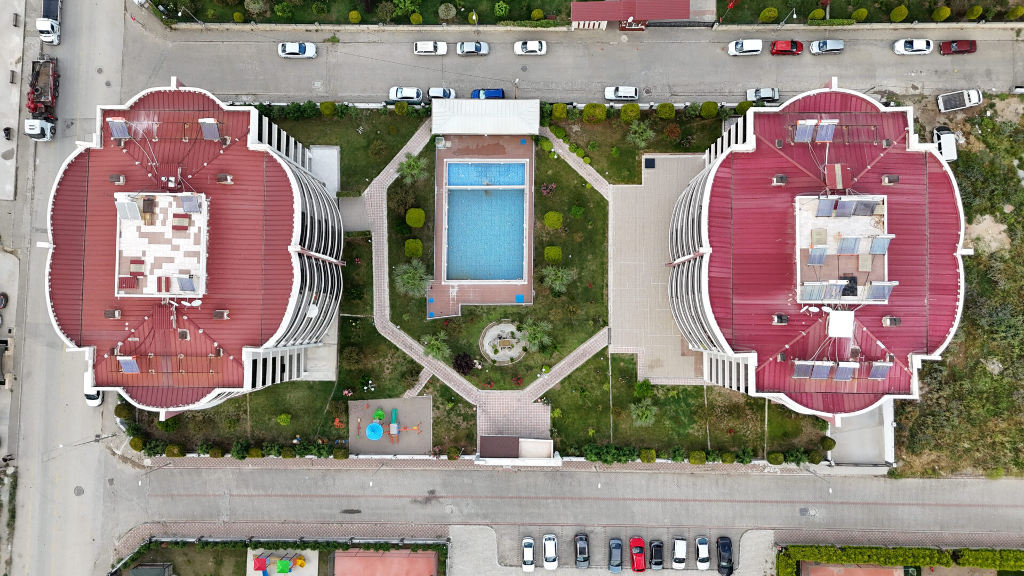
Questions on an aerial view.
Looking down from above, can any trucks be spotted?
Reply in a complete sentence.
Yes, there's a truck down there.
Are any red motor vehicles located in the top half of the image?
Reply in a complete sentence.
Yes, the scene does show a red motor vehicle in the top half of the image.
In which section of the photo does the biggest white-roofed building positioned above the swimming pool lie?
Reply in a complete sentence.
The biggest white-roofed building positioned above the swimming pool appears toward the top of the photo.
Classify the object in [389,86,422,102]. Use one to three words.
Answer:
car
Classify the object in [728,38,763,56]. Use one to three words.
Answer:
car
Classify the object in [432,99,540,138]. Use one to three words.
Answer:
building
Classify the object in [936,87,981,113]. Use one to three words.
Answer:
truck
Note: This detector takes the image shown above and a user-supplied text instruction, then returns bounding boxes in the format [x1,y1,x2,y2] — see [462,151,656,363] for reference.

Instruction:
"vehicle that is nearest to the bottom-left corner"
[86,367,107,400]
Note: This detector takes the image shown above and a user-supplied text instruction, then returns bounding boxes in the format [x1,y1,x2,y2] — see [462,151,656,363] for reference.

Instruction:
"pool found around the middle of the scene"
[426,135,534,319]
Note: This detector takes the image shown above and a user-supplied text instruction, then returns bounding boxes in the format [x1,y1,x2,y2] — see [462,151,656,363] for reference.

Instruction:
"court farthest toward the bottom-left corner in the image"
[326,551,437,576]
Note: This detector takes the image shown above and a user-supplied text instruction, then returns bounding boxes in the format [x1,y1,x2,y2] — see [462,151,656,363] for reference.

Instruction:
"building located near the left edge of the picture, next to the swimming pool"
[38,77,340,419]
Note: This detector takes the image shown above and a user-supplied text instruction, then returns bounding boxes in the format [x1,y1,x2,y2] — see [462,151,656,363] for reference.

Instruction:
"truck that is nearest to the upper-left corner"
[38,0,64,47]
